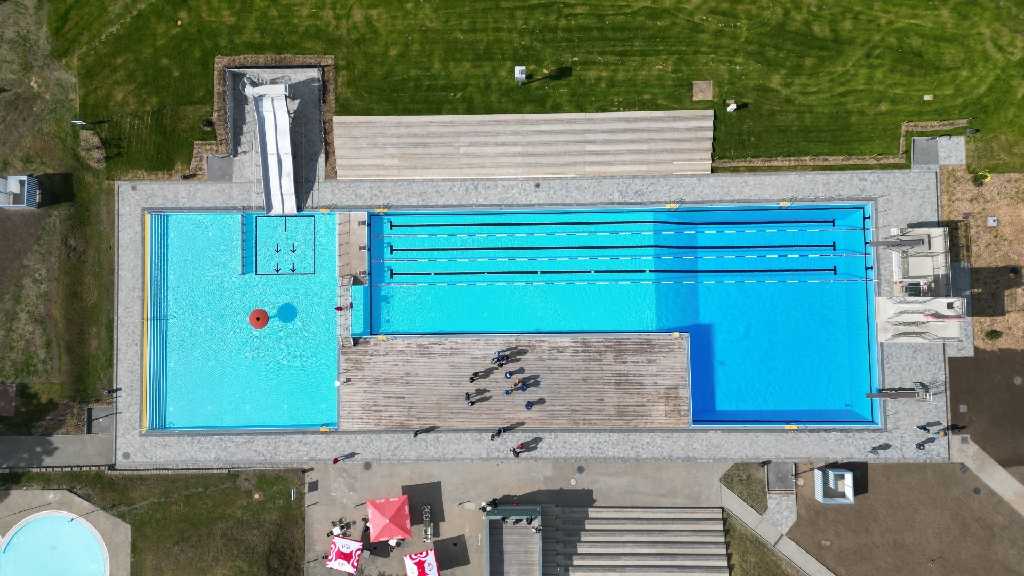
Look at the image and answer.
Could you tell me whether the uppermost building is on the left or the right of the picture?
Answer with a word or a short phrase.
left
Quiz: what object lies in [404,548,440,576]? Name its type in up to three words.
umbrella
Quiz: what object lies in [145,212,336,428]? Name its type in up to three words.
swimming pool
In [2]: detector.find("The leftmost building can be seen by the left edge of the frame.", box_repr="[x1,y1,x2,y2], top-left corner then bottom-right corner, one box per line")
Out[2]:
[0,174,39,208]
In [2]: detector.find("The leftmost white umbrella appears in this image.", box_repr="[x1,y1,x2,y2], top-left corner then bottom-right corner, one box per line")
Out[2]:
[326,535,364,574]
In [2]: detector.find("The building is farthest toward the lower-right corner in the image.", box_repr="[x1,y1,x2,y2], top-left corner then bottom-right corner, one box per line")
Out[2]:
[815,467,857,503]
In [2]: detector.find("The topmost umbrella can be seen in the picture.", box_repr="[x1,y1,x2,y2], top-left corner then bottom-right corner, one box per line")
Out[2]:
[366,495,412,543]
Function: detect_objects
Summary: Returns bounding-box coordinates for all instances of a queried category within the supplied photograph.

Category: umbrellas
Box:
[366,495,412,543]
[326,535,364,574]
[404,548,440,576]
